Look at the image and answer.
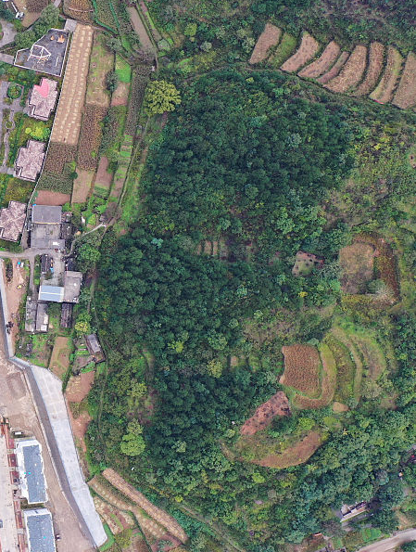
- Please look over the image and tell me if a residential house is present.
Yes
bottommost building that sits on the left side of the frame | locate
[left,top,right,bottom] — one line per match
[21,505,58,552]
